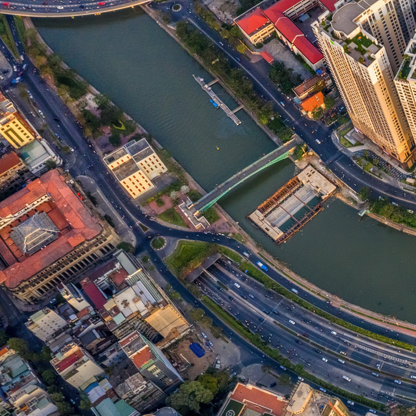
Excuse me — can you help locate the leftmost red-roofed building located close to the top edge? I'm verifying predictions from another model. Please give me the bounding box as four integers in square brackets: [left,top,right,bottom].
[236,8,280,49]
